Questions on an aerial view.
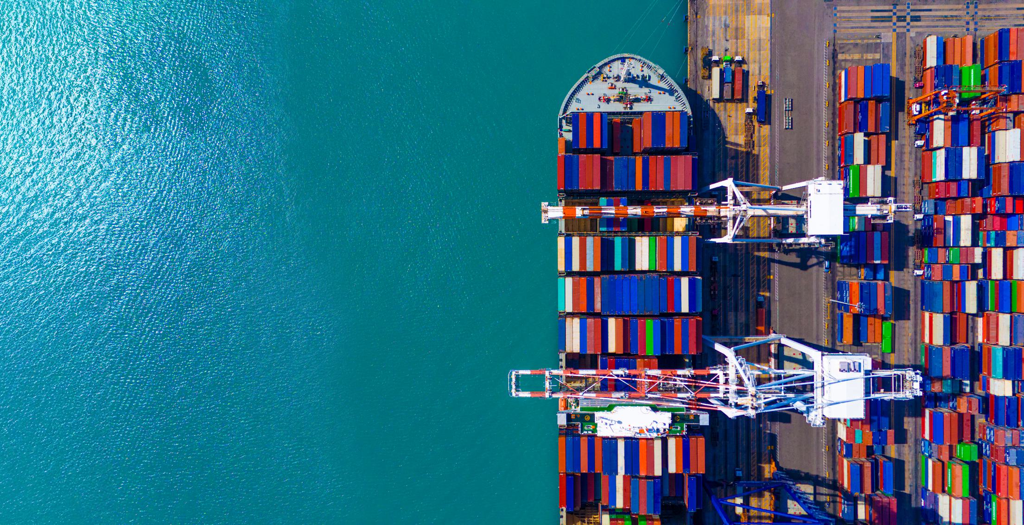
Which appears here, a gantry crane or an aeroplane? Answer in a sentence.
I can see a gantry crane in this picture.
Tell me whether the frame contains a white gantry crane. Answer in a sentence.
Yes, there's a white gantry crane here.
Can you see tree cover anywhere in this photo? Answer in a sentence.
No, the scene doesn't show any tree cover.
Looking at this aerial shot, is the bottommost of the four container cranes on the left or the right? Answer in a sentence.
It is on the right.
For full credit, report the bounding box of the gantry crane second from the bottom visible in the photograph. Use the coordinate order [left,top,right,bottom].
[508,324,923,428]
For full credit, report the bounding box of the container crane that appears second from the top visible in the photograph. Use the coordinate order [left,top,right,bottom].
[541,176,912,255]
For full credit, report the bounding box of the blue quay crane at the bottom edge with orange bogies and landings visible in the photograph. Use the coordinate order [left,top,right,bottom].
[699,449,825,525]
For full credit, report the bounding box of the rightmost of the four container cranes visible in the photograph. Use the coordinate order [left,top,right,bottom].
[909,87,1009,126]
